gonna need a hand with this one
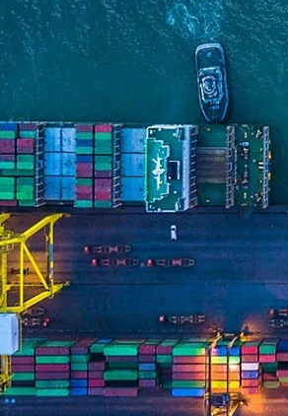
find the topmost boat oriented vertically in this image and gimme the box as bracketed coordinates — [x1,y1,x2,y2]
[195,43,229,122]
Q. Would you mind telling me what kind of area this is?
port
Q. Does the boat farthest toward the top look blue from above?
Yes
